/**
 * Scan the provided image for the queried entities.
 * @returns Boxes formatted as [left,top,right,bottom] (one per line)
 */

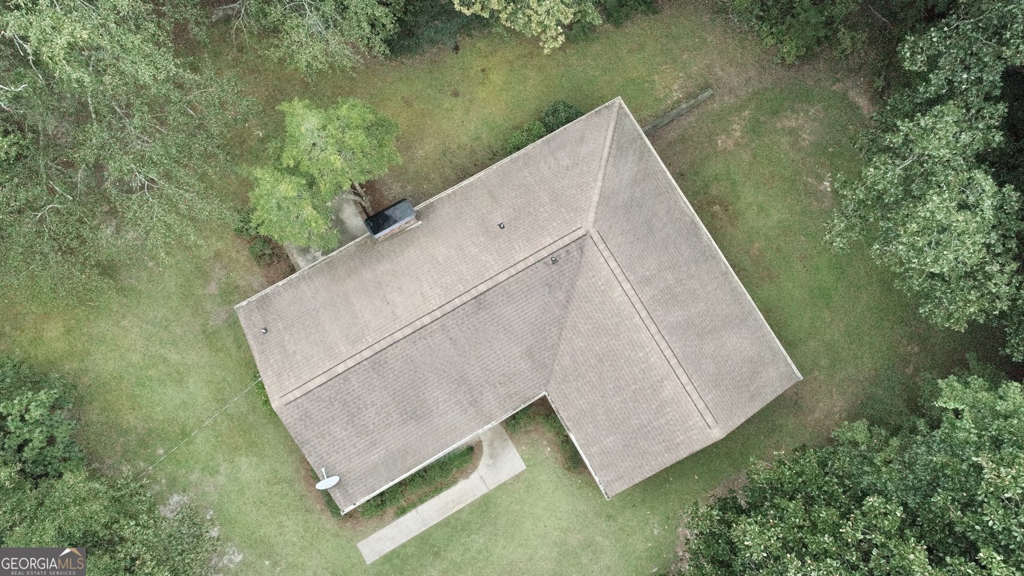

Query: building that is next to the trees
[235,98,801,514]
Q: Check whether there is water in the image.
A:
No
